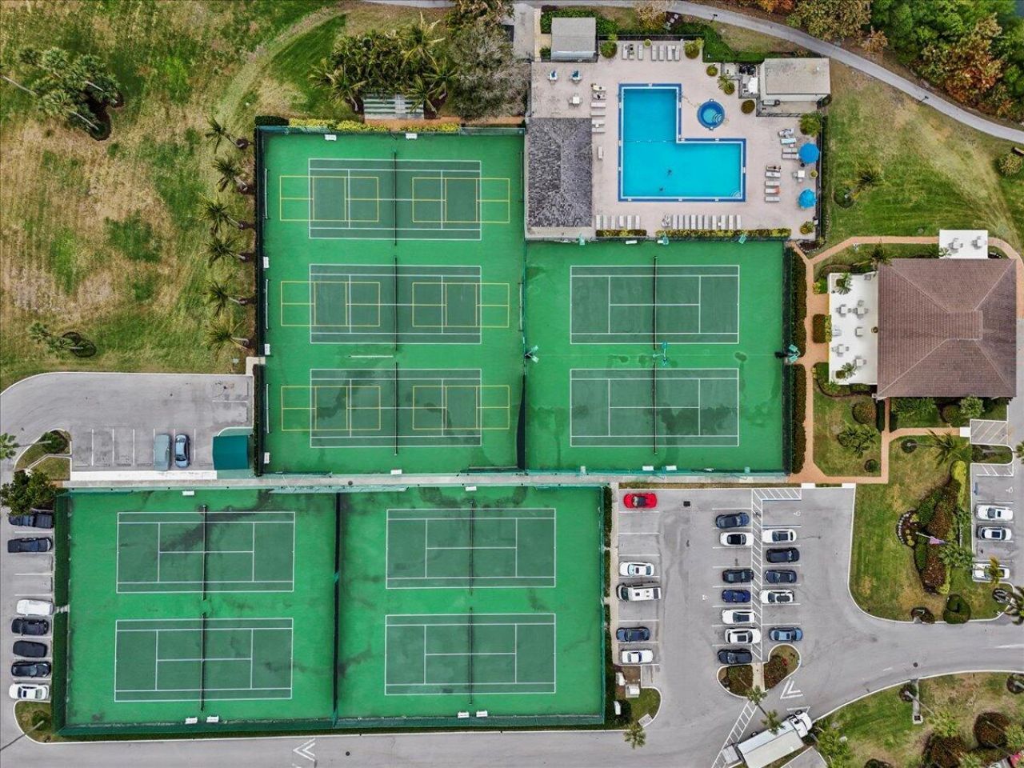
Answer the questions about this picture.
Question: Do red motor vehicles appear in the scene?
Yes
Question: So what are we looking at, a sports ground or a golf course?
sports ground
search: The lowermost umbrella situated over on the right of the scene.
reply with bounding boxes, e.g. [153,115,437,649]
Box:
[797,190,816,209]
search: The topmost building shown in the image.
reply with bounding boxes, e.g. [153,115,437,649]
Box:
[552,18,596,61]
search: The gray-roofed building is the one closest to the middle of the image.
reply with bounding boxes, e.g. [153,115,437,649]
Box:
[527,117,592,236]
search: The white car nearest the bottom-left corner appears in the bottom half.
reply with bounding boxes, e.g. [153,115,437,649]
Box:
[12,682,48,700]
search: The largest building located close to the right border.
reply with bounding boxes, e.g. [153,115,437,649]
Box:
[877,258,1017,398]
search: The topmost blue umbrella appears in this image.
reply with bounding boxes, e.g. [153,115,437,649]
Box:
[798,143,819,164]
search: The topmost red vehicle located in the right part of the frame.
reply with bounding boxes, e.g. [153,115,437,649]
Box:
[623,493,657,509]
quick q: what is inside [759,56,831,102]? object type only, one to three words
building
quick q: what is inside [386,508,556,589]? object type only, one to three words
tennis court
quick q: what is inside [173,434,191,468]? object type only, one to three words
car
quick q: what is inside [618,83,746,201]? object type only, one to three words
swimming pool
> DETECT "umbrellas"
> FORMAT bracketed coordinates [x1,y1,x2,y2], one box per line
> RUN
[798,143,819,164]
[797,190,816,209]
